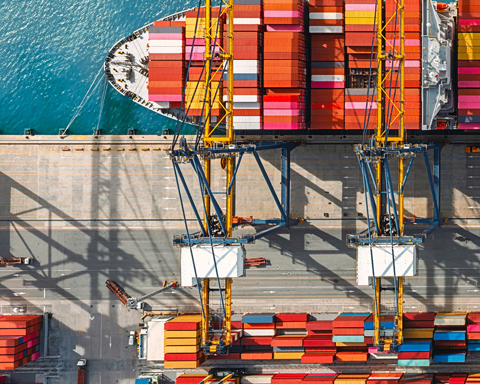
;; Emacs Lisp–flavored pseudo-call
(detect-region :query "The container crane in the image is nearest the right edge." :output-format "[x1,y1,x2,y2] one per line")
[348,0,457,352]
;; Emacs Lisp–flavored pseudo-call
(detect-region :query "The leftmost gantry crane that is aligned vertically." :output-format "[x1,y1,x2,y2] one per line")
[164,0,313,352]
